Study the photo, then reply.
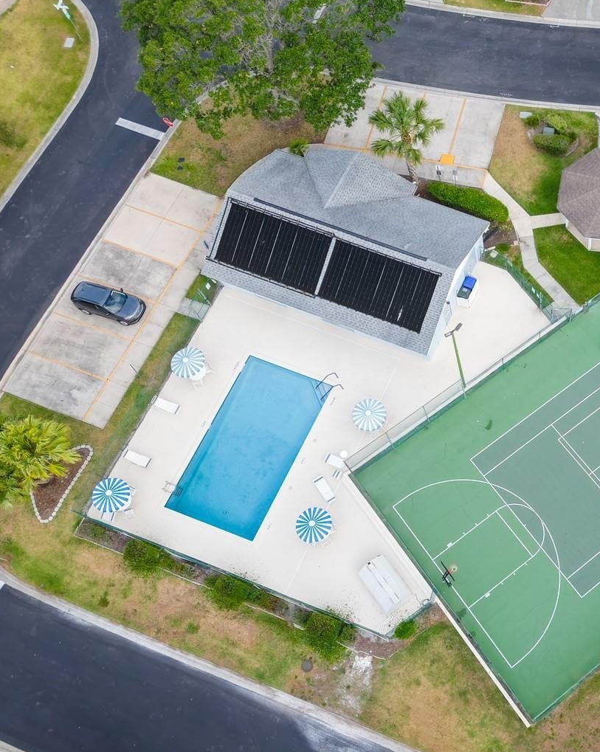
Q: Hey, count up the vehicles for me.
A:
1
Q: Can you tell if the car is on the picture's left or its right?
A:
left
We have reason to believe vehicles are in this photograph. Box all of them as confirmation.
[68,285,144,329]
